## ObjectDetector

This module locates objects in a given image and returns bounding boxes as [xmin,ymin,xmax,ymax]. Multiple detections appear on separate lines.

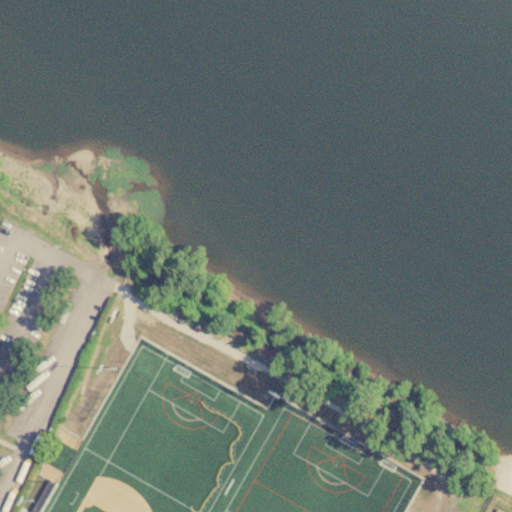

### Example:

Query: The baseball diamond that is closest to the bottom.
[77,476,153,512]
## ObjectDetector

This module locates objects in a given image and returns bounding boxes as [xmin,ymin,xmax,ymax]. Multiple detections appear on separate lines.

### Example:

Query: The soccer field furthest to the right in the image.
[221,402,422,512]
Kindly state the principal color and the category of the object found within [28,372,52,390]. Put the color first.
white vehicle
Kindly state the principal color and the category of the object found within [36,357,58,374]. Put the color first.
white vehicle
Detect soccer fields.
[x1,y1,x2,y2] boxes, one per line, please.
[44,342,276,512]
[221,402,422,512]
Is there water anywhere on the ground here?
Yes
